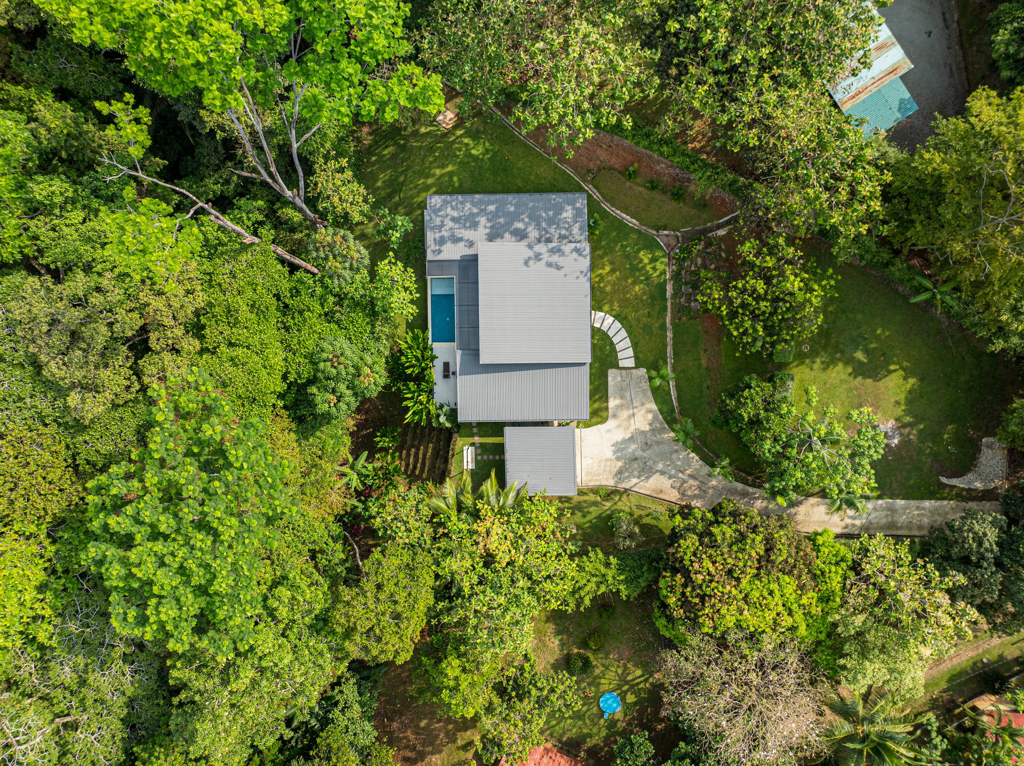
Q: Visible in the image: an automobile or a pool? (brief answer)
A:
pool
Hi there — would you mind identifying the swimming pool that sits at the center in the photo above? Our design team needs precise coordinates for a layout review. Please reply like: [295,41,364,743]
[427,277,456,365]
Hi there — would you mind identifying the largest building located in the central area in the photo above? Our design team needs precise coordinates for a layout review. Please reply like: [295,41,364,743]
[424,192,592,423]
